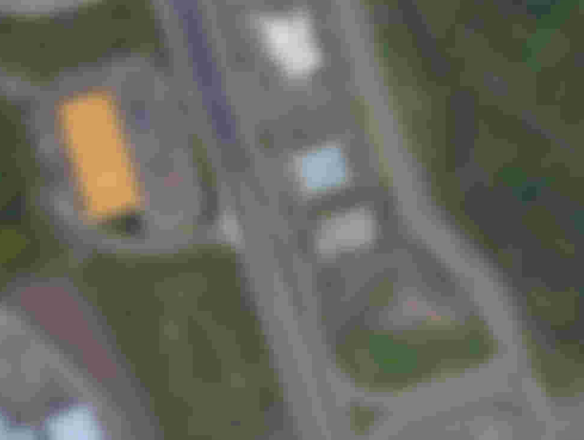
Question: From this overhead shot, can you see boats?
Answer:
No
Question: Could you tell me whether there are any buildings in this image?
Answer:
Yes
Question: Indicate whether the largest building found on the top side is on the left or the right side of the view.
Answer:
left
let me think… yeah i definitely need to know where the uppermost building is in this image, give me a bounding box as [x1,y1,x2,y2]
[262,12,323,78]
